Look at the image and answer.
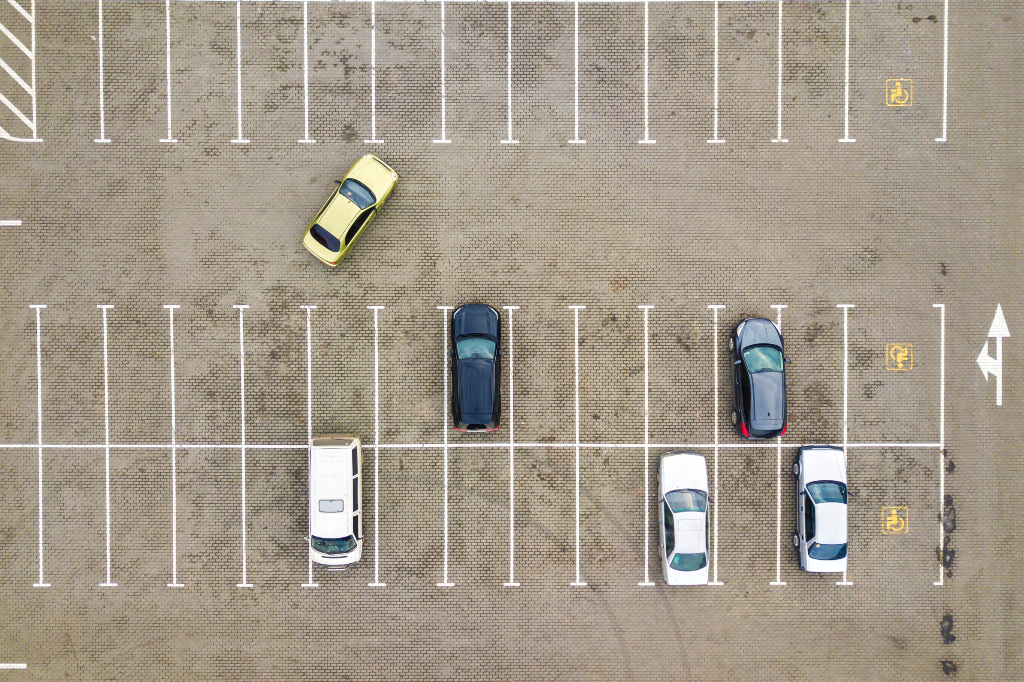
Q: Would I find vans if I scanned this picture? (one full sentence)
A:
Yes, I can see a van in this picture.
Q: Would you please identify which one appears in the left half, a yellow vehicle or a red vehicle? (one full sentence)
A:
Visible in the left half is a yellow vehicle.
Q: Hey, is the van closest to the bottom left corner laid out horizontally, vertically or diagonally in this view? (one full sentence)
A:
The van closest to the bottom left corner runs vertically in the image.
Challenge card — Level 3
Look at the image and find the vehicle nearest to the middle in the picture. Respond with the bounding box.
[448,303,505,434]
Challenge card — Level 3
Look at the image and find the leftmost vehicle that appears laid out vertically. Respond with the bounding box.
[304,431,367,571]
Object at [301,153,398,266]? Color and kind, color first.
yellow car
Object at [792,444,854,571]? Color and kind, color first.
white car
